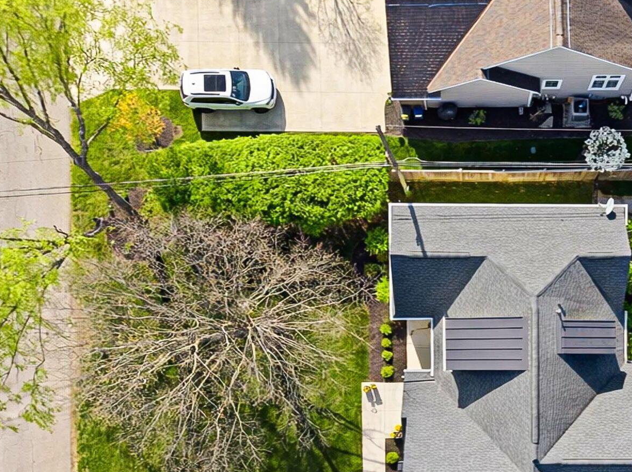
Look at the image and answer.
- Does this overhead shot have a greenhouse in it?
No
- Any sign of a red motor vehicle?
No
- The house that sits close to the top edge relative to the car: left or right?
on its right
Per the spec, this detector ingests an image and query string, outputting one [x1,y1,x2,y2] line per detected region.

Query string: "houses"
[388,201,632,472]
[386,0,632,121]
